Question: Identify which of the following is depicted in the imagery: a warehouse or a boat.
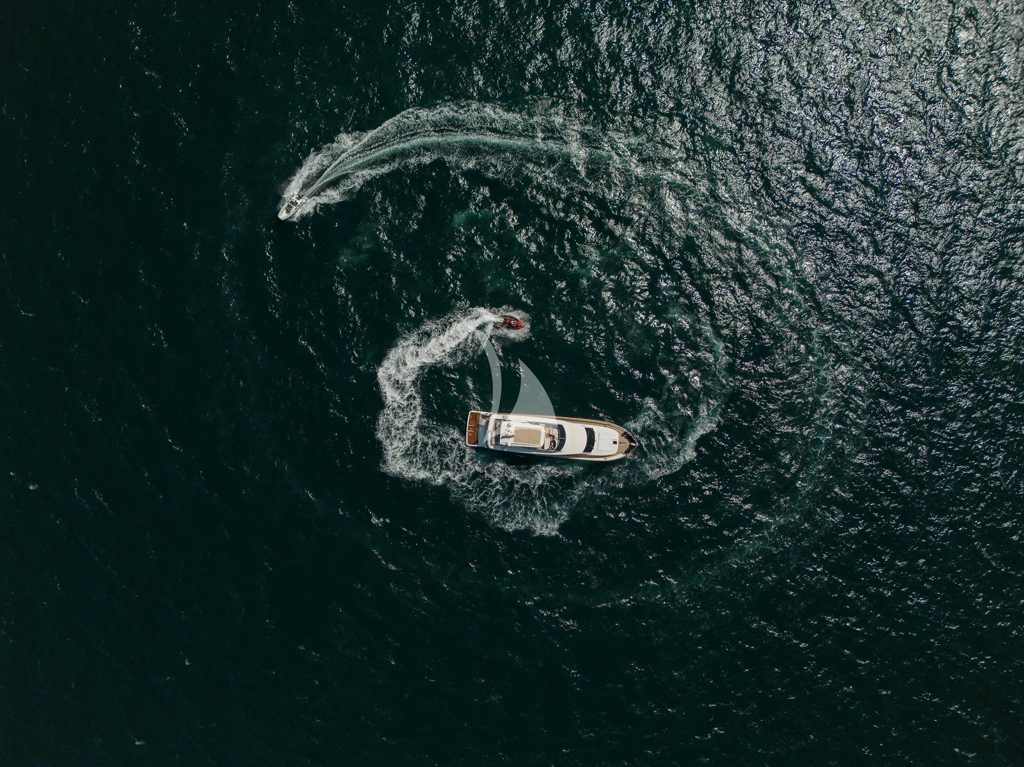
boat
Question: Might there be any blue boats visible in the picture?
No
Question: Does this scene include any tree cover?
No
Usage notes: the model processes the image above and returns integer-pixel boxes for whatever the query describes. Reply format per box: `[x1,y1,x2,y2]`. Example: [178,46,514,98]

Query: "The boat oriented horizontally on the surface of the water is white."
[466,411,638,461]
